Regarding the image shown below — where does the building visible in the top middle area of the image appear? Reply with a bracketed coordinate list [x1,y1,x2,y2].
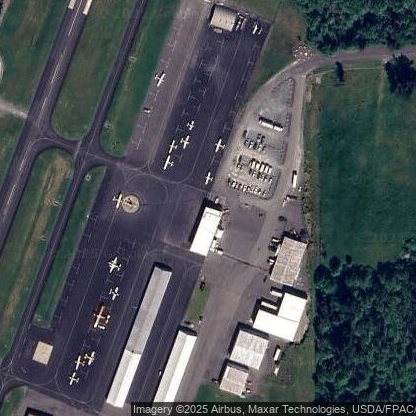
[211,6,239,31]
